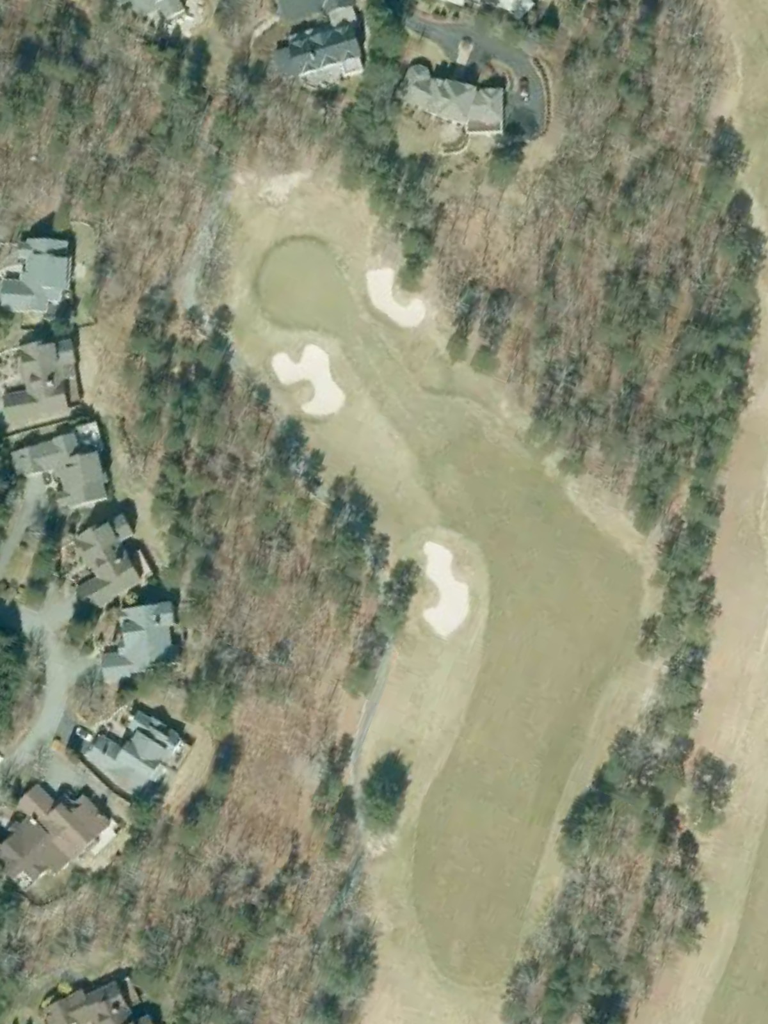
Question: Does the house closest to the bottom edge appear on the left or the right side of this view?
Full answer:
The house closest to the bottom edge sits on the left side.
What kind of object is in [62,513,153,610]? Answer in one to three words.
house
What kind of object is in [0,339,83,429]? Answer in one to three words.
house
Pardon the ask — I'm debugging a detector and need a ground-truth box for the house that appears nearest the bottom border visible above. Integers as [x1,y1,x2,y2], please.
[41,977,140,1024]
